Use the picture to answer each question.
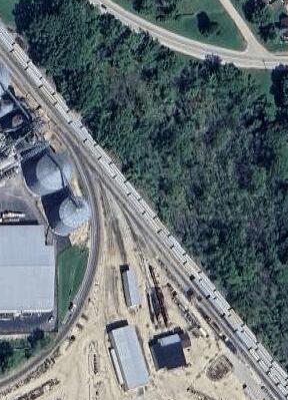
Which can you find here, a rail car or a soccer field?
rail car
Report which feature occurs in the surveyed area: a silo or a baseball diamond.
silo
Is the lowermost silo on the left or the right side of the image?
left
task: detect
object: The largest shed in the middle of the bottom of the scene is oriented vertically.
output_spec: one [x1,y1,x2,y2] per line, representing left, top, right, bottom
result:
[110,325,149,390]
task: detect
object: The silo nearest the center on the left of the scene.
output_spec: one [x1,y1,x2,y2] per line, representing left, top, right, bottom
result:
[55,199,90,235]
